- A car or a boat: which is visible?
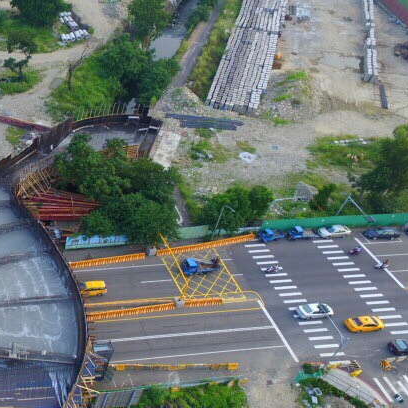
car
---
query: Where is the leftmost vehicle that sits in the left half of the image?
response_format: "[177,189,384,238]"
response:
[79,280,108,299]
